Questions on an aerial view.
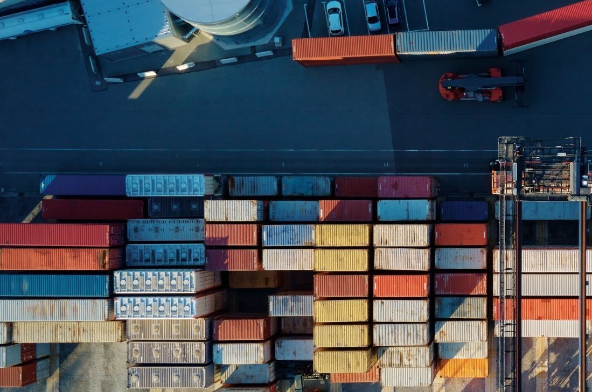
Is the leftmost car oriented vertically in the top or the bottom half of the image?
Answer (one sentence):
The top half of the photo is where the leftmost car oriented vertically is.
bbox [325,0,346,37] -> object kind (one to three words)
car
